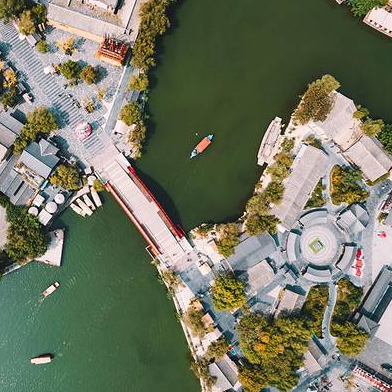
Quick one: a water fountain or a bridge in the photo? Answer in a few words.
bridge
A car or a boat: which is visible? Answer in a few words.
boat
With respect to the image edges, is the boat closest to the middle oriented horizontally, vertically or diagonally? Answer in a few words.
diagonally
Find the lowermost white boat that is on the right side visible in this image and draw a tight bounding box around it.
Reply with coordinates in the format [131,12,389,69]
[257,118,282,165]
